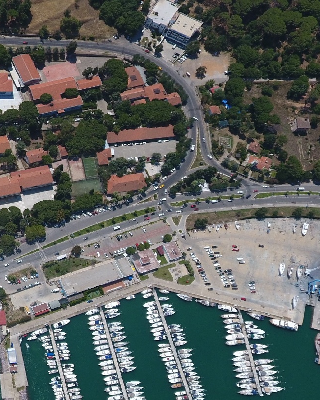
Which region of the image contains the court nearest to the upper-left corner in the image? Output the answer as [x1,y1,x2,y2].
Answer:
[43,62,80,80]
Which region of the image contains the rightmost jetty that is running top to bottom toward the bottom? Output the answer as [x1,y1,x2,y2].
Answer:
[237,310,263,396]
